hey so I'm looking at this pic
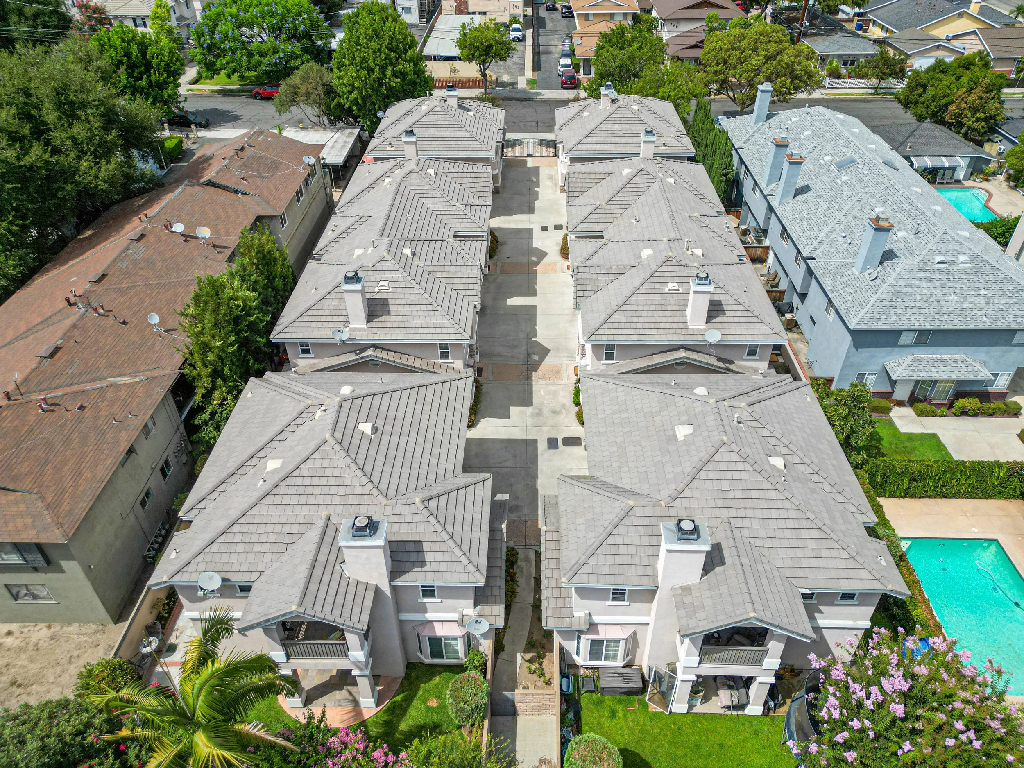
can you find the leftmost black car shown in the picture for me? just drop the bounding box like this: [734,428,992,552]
[163,107,213,125]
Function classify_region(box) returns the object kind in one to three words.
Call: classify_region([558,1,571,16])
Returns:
vehicle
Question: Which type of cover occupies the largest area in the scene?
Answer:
buildings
